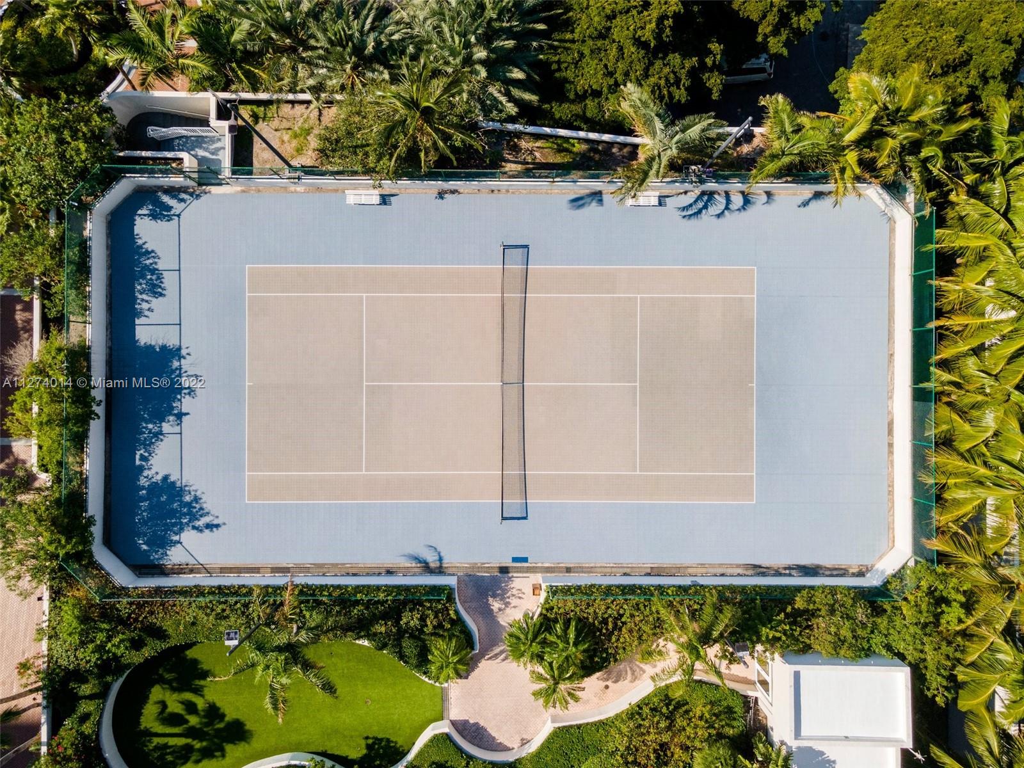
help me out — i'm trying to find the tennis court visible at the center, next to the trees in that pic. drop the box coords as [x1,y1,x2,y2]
[109,182,891,575]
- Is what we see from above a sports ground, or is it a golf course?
sports ground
